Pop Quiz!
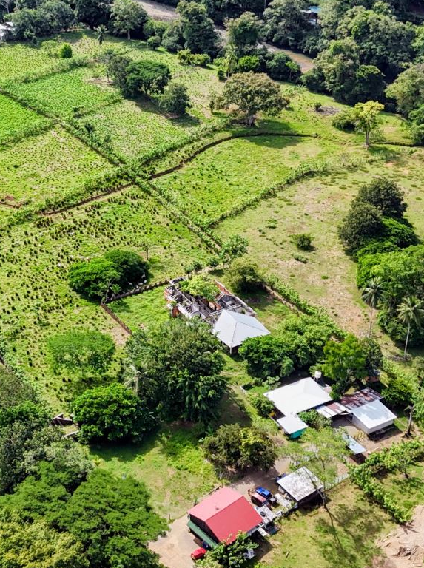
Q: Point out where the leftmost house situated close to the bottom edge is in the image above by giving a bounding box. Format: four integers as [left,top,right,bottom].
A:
[182,488,261,552]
